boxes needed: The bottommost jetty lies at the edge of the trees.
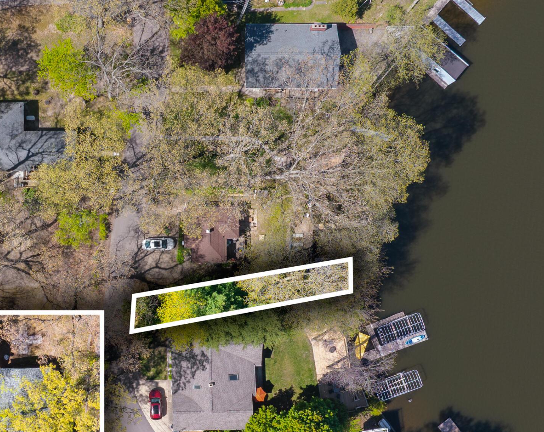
[362,322,428,361]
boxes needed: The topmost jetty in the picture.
[453,0,487,27]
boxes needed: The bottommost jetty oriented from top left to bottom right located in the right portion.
[435,17,465,48]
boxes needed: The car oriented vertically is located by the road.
[148,387,164,420]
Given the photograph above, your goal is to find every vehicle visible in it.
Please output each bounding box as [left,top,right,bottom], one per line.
[141,236,175,253]
[148,387,164,420]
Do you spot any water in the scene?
Yes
